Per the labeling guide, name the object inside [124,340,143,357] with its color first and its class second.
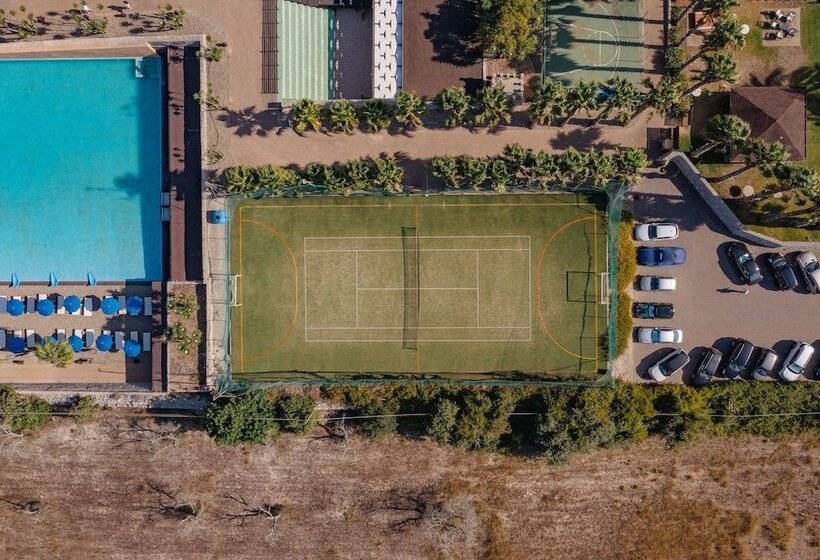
blue umbrella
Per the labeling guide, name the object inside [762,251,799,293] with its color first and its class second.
black car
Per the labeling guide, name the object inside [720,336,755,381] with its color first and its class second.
black car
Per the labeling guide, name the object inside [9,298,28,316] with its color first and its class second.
blue umbrella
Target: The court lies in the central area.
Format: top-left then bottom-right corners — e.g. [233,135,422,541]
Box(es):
[227,192,610,379]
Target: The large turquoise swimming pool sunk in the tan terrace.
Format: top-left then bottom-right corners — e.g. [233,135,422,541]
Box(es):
[0,57,162,284]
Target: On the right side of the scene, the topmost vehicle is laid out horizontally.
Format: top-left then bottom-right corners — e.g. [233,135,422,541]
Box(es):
[634,220,679,242]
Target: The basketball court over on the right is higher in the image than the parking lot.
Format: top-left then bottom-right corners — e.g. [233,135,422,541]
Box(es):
[547,0,643,102]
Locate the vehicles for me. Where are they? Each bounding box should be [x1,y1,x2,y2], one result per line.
[720,336,755,381]
[808,357,820,386]
[726,241,762,285]
[633,301,675,321]
[791,250,820,294]
[646,347,689,381]
[762,251,799,293]
[776,340,814,384]
[637,327,681,347]
[636,246,685,268]
[634,220,679,242]
[748,346,779,381]
[689,344,725,388]
[638,274,676,293]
